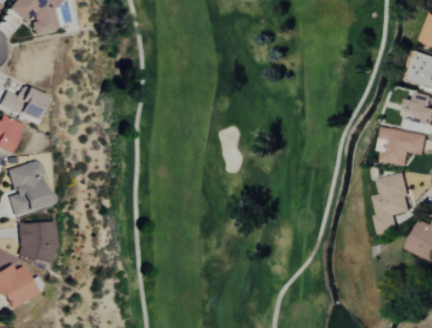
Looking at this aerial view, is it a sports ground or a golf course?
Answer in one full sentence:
The picture captures a golf course.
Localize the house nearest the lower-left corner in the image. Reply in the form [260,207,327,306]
[0,260,45,308]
